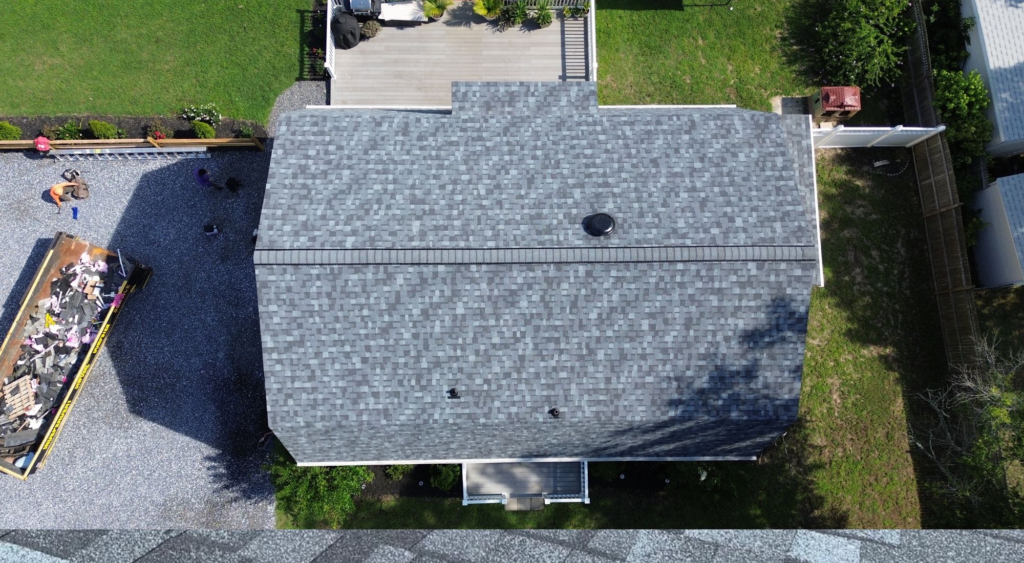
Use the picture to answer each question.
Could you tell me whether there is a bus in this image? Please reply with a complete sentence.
No, this view has no bus in it.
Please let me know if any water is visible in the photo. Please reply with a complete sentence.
No, there's no water in this view.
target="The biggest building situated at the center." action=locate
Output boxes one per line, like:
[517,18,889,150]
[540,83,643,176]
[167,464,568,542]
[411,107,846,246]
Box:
[251,79,825,470]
